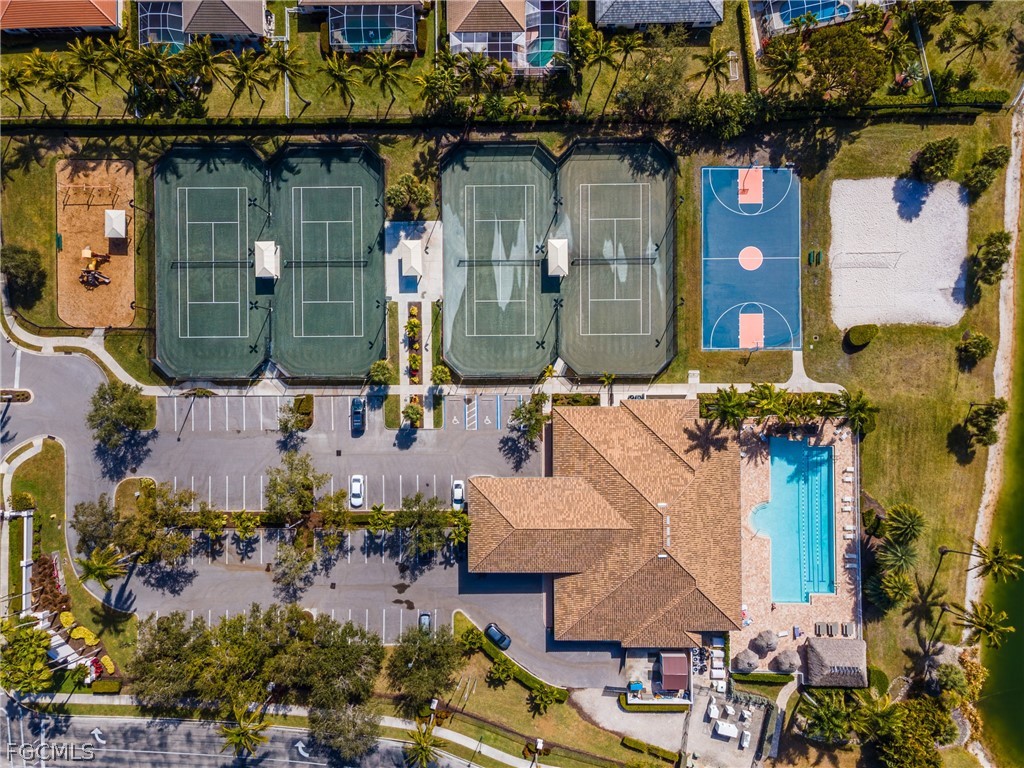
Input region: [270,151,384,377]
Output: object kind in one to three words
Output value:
tennis court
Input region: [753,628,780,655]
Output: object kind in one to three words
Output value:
umbrella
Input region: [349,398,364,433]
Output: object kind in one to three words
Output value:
vehicle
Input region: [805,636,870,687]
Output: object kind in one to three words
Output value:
building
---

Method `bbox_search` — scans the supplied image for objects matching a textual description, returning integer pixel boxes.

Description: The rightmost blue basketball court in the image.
[701,166,801,351]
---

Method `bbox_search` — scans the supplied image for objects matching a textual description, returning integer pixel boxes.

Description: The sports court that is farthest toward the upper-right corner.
[829,177,969,331]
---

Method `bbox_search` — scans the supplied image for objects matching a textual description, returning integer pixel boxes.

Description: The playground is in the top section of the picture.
[56,158,135,329]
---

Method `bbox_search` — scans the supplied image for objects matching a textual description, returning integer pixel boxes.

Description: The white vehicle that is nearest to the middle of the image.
[451,481,465,512]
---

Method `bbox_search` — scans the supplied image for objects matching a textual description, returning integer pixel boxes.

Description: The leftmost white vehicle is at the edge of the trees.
[348,476,363,507]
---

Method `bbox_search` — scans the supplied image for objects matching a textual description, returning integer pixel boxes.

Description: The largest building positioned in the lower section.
[468,400,743,648]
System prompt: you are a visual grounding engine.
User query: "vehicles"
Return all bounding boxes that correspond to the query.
[348,476,363,507]
[418,612,431,631]
[483,624,511,652]
[451,481,465,512]
[349,398,364,433]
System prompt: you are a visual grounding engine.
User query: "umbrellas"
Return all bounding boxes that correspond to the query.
[753,628,780,655]
[773,647,800,674]
[732,647,758,673]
